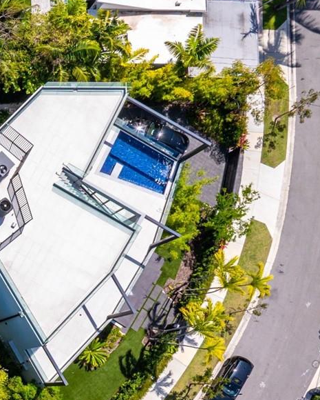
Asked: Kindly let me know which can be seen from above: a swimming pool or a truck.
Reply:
swimming pool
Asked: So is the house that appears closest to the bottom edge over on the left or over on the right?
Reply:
left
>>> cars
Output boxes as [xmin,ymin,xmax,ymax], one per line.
[129,113,194,164]
[200,350,254,400]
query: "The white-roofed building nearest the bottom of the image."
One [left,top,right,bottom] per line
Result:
[0,86,212,386]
